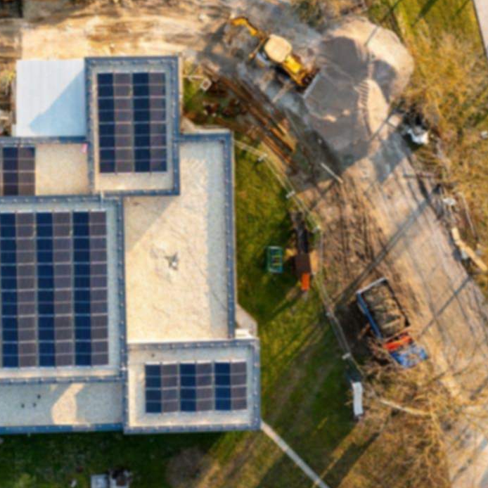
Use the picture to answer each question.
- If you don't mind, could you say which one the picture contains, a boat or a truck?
truck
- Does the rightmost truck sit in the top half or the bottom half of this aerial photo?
bottom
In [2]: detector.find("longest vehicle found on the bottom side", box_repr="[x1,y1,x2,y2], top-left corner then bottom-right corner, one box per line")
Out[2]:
[355,274,429,364]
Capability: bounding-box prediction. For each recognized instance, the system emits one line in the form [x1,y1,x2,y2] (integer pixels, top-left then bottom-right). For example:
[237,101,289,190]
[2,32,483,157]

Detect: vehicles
[217,25,312,102]
[355,274,429,364]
